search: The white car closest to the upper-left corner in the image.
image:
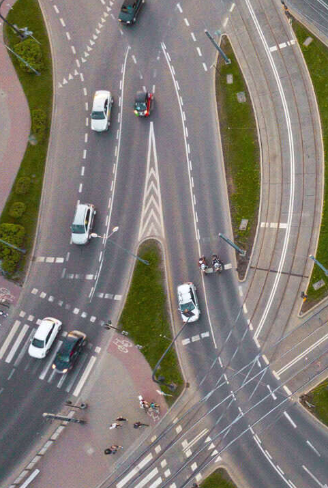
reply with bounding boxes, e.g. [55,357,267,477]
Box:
[91,91,114,131]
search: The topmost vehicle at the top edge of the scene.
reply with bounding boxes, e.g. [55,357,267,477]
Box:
[117,0,145,25]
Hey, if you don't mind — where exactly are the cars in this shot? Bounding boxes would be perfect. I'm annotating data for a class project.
[71,204,96,245]
[91,91,114,131]
[29,315,61,361]
[53,330,86,375]
[117,0,145,25]
[177,279,200,325]
[133,91,153,116]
